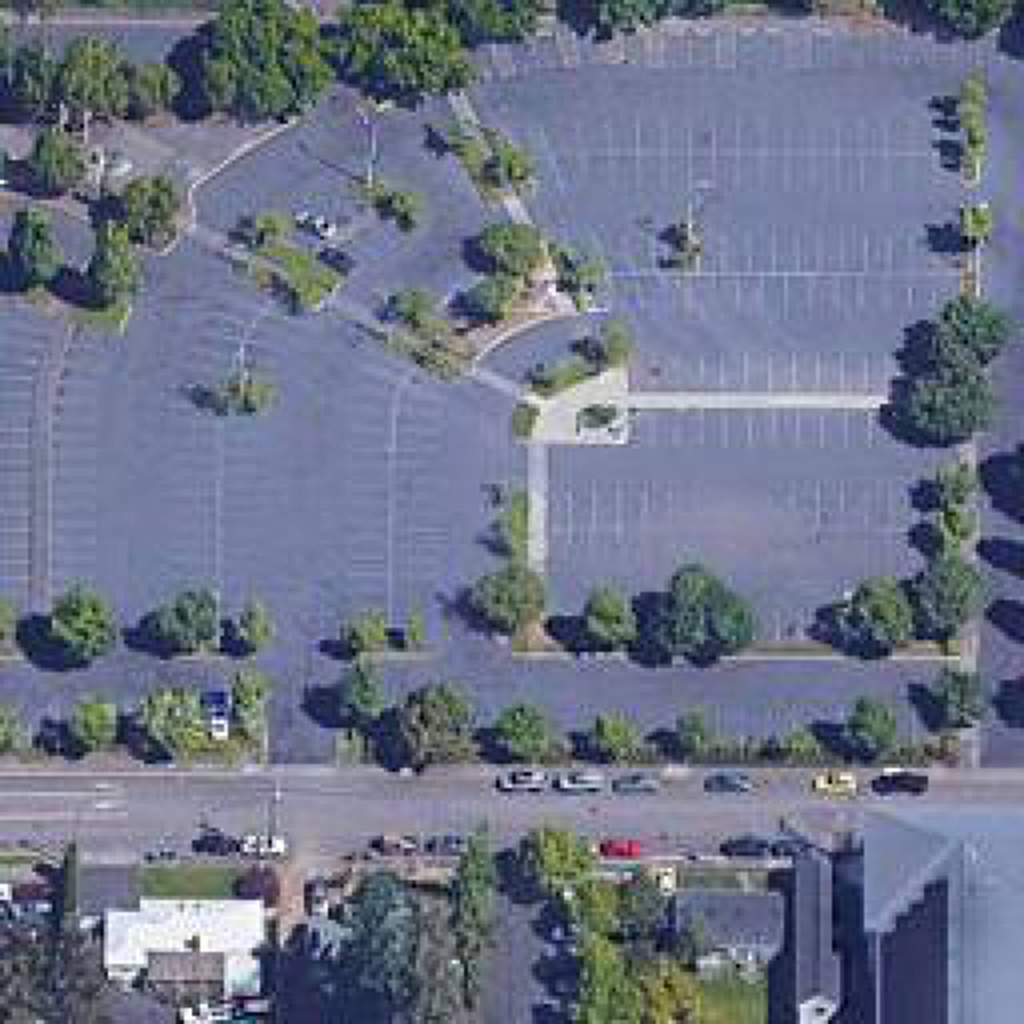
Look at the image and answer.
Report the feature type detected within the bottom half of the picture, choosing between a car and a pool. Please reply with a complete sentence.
Visible within the bottom half of the picture is a car.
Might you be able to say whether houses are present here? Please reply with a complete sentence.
Yes, the frame does contain a house.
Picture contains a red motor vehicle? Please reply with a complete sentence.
Yes, I can see a red motor vehicle in this picture.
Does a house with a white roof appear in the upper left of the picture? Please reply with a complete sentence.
No, I can find no house with a white roof in the upper left of the picture.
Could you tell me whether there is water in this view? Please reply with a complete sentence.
No, no water is visible.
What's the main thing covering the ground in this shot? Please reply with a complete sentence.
For the most part, this view shows paved ground.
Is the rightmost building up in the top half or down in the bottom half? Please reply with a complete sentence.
The rightmost building is in the bottom half of the image.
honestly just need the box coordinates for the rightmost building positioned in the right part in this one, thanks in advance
[864,806,1024,1024]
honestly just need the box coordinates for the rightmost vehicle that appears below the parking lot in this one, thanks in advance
[874,769,925,794]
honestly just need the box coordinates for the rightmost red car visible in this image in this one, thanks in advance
[598,837,642,859]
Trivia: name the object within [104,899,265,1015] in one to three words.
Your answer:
house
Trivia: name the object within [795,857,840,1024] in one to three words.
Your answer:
building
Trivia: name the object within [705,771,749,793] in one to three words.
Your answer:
car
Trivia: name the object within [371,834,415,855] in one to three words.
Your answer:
car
